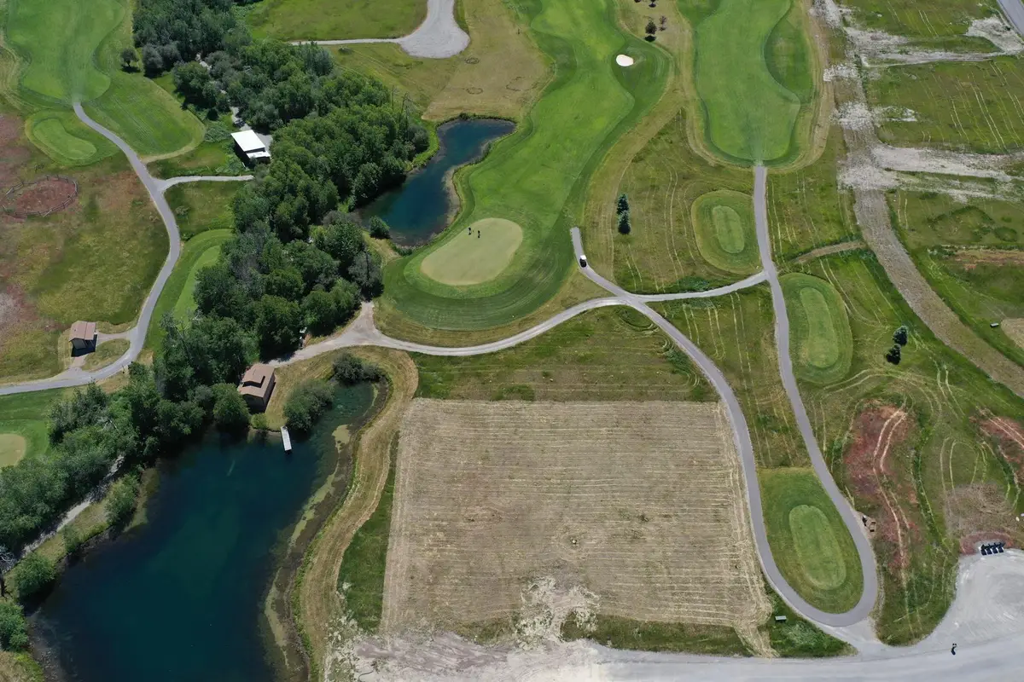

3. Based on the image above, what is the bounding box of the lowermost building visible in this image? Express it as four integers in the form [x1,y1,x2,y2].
[240,364,280,412]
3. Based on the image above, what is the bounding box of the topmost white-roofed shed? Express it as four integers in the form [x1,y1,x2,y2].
[233,129,266,171]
